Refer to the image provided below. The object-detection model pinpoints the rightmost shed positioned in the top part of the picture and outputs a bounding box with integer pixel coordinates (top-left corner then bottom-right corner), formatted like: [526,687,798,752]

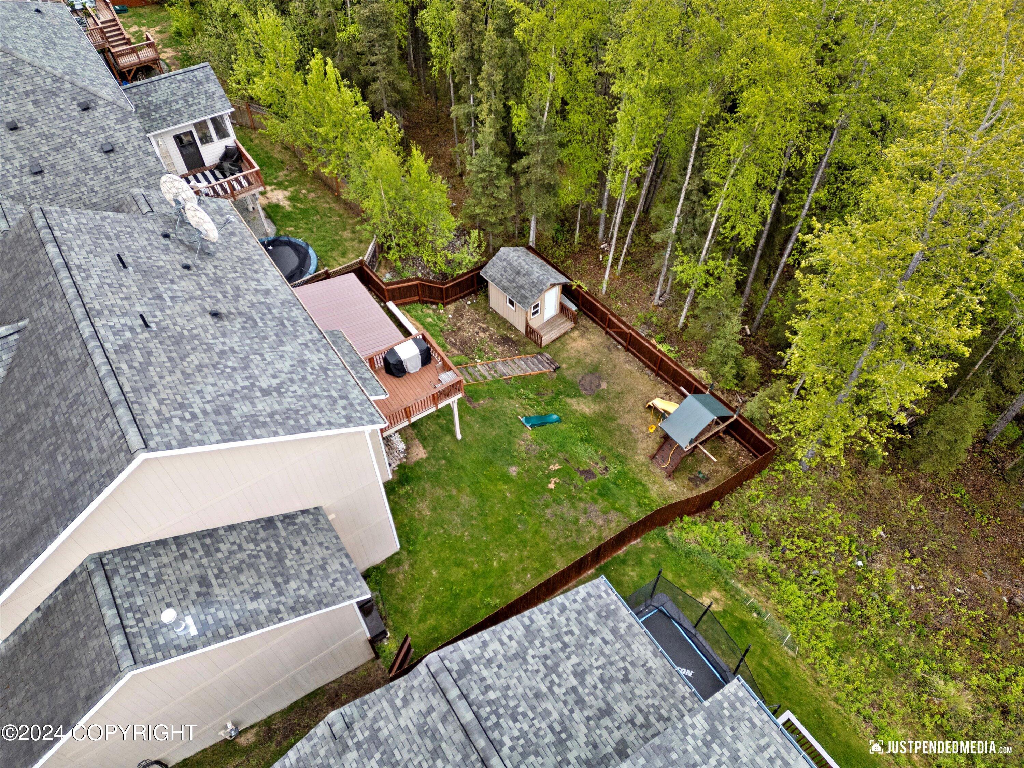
[482,247,575,343]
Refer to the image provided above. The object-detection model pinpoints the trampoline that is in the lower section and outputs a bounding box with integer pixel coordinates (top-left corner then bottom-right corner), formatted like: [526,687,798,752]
[622,565,803,714]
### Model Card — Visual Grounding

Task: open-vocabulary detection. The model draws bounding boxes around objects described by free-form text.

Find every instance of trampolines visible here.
[622,565,803,714]
[266,237,316,280]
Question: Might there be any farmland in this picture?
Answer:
No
